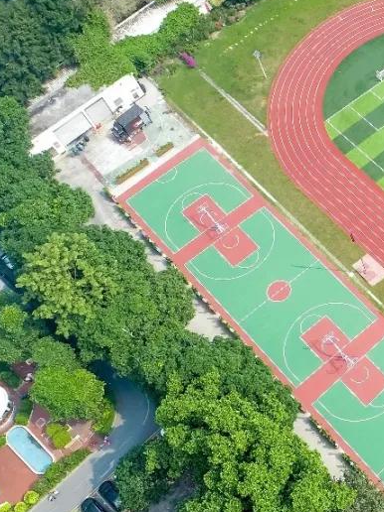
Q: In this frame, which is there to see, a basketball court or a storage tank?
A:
basketball court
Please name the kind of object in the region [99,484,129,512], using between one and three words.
car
